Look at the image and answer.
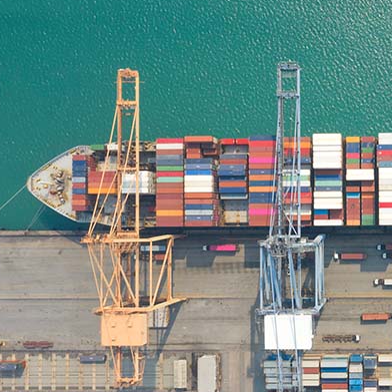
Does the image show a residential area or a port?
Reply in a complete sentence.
This looks like a port.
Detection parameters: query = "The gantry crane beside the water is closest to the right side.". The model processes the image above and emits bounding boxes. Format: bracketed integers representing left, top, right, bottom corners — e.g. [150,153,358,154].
[253,62,332,392]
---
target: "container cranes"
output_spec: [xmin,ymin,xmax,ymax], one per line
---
[253,62,332,392]
[80,67,196,388]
